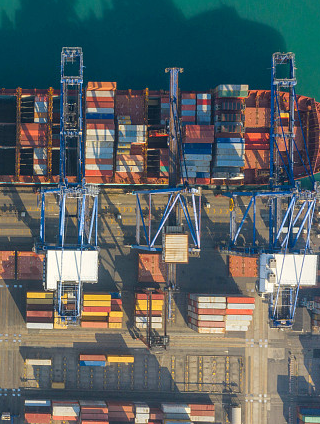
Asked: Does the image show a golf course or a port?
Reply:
port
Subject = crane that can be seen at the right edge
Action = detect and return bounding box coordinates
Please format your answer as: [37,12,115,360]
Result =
[212,55,320,331]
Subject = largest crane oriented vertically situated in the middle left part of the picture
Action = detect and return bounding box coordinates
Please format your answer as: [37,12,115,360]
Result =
[34,49,108,328]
